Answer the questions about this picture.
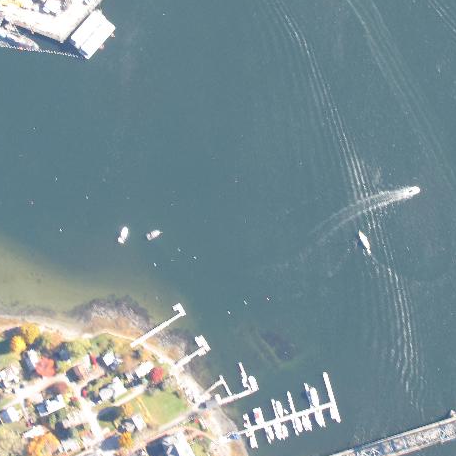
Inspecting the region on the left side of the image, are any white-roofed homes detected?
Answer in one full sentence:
Yes, you'll find a white-roofed home on the left side of the image.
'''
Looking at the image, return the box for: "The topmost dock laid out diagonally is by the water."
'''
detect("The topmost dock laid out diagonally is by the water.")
[131,304,184,348]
